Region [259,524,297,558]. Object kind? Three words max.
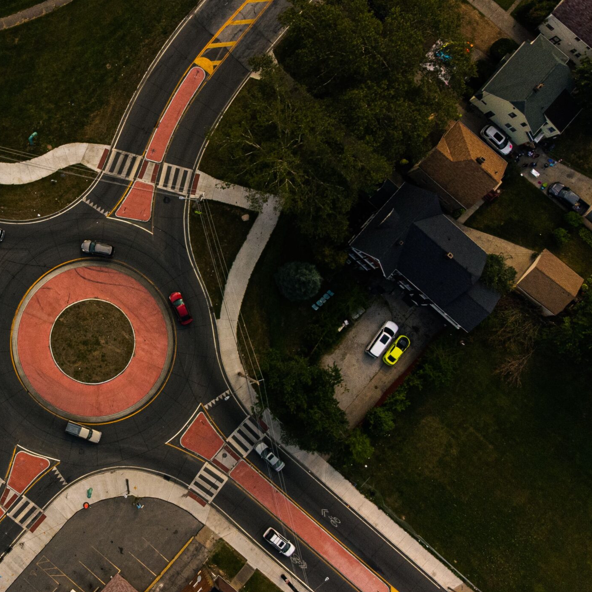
truck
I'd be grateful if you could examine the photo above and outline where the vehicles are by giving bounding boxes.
[169,291,195,328]
[81,238,116,259]
[64,418,103,443]
[545,181,588,217]
[364,319,399,360]
[0,228,7,245]
[380,333,411,368]
[476,121,512,158]
[259,524,297,558]
[253,440,289,475]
